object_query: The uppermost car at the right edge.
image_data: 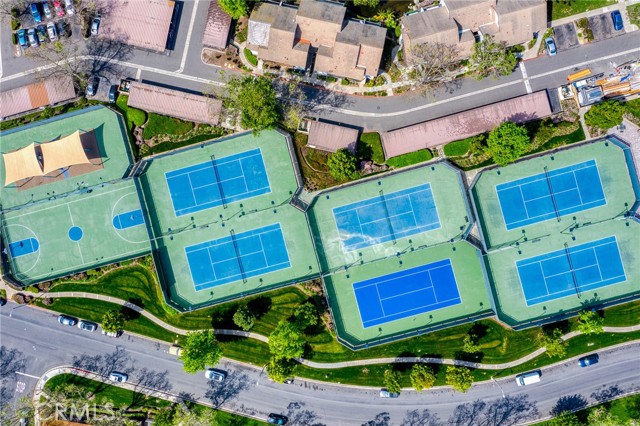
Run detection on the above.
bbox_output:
[609,8,624,32]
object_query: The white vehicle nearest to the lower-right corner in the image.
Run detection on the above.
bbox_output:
[517,372,541,385]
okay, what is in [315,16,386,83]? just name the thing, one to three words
house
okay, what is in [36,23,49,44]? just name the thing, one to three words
vehicle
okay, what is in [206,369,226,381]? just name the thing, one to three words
vehicle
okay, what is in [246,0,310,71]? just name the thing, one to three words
house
